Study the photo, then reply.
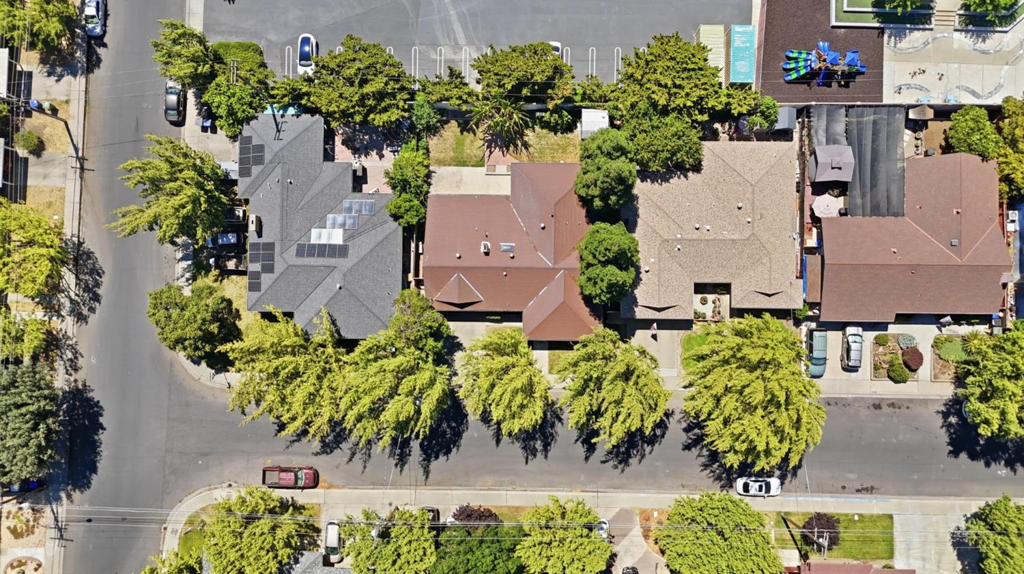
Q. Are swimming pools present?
No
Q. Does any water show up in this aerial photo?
No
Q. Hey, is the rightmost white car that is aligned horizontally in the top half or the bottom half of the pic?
bottom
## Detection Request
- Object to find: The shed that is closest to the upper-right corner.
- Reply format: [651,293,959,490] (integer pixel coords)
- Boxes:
[905,106,933,122]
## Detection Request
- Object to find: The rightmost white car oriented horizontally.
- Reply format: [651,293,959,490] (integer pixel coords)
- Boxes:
[734,475,780,498]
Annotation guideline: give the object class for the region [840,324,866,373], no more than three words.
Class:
car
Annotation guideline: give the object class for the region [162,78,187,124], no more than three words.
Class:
car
